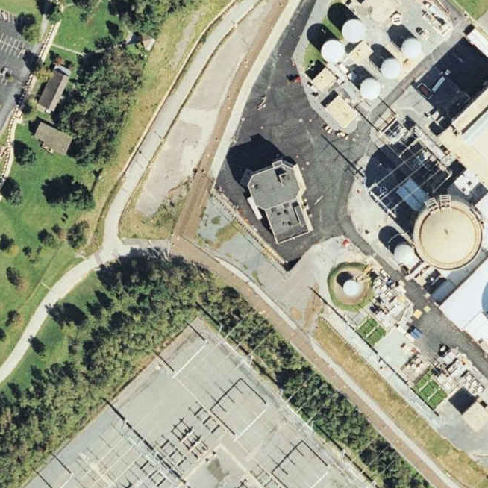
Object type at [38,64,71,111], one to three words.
house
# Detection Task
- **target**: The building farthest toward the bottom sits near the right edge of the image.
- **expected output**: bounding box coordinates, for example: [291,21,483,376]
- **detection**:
[463,398,488,431]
